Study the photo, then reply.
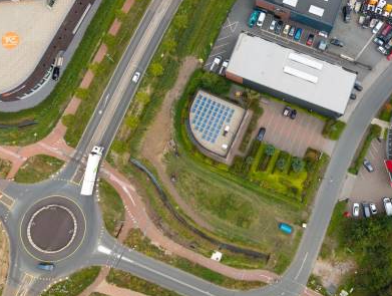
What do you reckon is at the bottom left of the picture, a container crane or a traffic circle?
traffic circle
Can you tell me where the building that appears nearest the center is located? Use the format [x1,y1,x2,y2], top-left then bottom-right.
[190,89,246,156]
